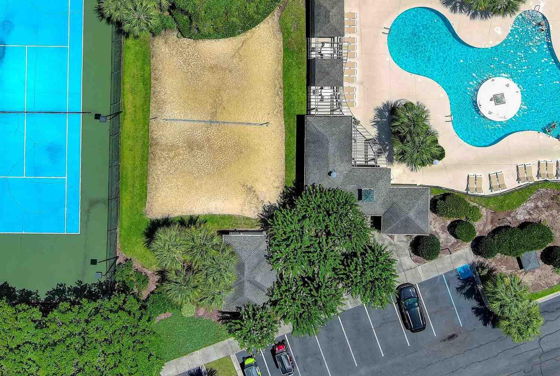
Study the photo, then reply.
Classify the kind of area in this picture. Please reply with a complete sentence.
This image shows a sports ground.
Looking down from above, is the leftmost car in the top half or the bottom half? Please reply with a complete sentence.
You can find the leftmost car in the bottom half.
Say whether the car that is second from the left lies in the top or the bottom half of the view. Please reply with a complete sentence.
The bottom half of the photo is where the car that is second from the left is.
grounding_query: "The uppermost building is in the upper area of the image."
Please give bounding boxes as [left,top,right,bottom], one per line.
[314,0,345,38]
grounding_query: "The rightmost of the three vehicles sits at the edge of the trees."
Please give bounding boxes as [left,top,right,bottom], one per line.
[395,281,426,335]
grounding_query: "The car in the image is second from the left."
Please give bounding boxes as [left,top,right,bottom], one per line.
[268,334,298,376]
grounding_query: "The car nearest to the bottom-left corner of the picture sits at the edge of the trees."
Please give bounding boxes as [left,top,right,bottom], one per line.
[240,352,265,376]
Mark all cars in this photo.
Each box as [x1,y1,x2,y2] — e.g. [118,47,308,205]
[240,352,265,376]
[395,281,426,335]
[268,334,298,376]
